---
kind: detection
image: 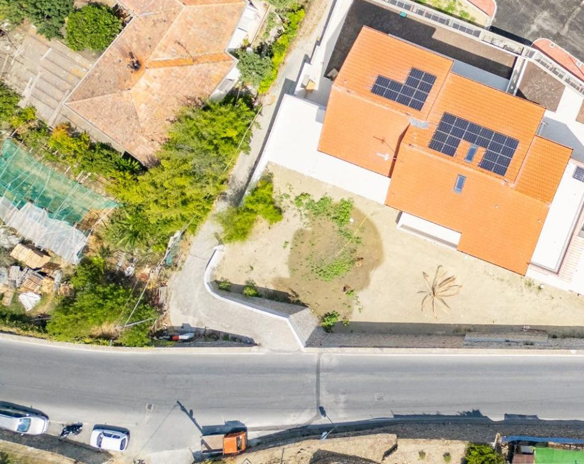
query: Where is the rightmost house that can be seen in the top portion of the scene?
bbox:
[249,25,584,281]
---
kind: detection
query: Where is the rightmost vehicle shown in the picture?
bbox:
[200,430,249,455]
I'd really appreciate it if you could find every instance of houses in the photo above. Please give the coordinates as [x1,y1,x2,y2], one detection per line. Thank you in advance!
[249,25,584,281]
[61,0,260,163]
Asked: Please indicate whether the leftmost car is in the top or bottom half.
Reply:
bottom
